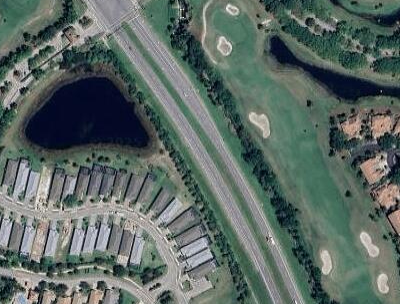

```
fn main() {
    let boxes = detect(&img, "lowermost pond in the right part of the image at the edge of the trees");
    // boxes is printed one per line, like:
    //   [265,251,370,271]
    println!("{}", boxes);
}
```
[268,35,400,103]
